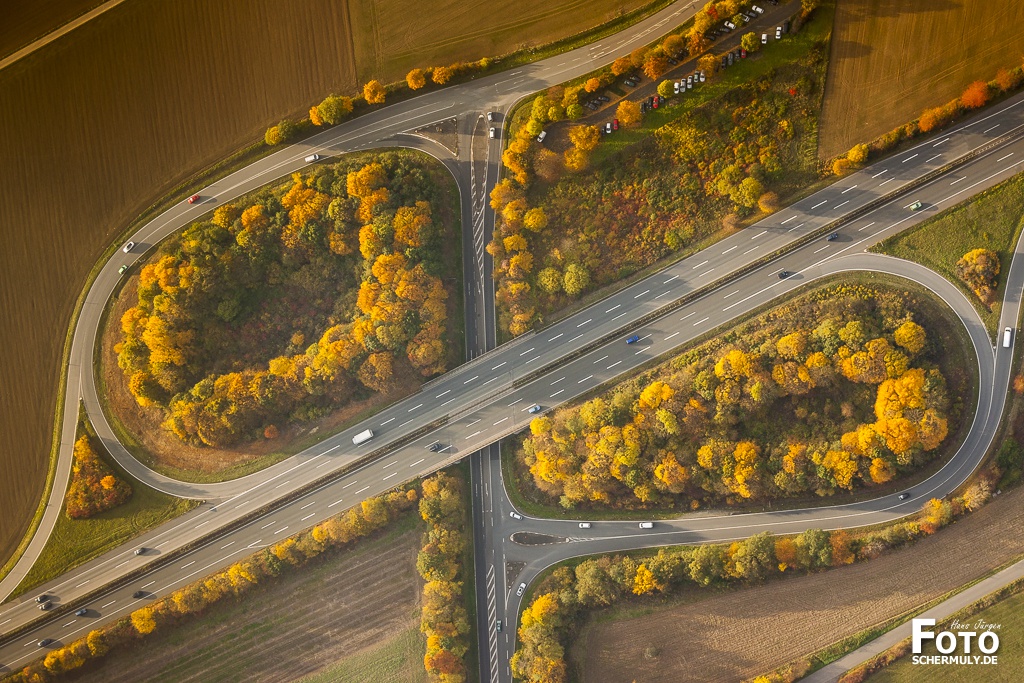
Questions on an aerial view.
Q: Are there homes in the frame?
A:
No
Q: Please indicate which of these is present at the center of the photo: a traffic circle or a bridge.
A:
bridge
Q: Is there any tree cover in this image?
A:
Yes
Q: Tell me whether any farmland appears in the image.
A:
Yes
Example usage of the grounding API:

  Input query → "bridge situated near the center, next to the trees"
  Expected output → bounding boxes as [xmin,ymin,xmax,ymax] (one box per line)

[422,327,542,477]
